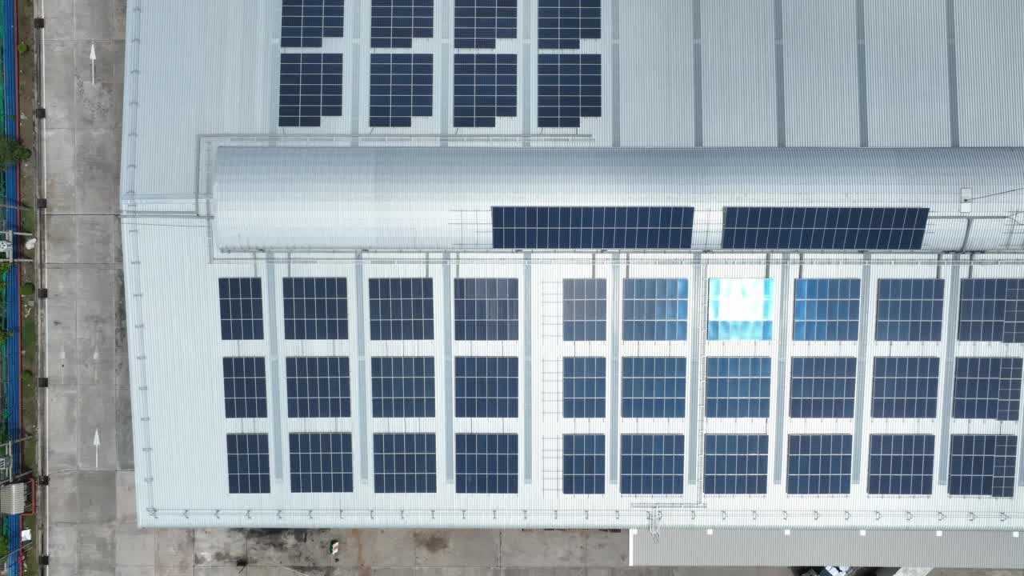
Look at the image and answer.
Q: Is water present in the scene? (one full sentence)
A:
No, there's no water in this view.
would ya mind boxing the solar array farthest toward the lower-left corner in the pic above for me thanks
[225,426,269,493]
